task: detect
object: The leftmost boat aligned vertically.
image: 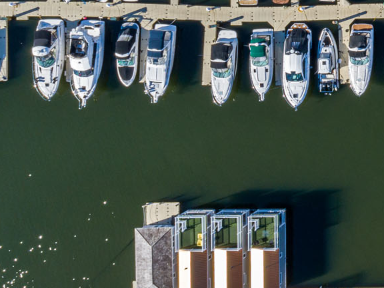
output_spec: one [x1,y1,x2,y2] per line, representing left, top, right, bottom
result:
[32,18,68,101]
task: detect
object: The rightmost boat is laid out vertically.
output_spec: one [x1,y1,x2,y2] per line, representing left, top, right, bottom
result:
[347,21,377,96]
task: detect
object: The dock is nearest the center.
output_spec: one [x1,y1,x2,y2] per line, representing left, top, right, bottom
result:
[146,200,181,225]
